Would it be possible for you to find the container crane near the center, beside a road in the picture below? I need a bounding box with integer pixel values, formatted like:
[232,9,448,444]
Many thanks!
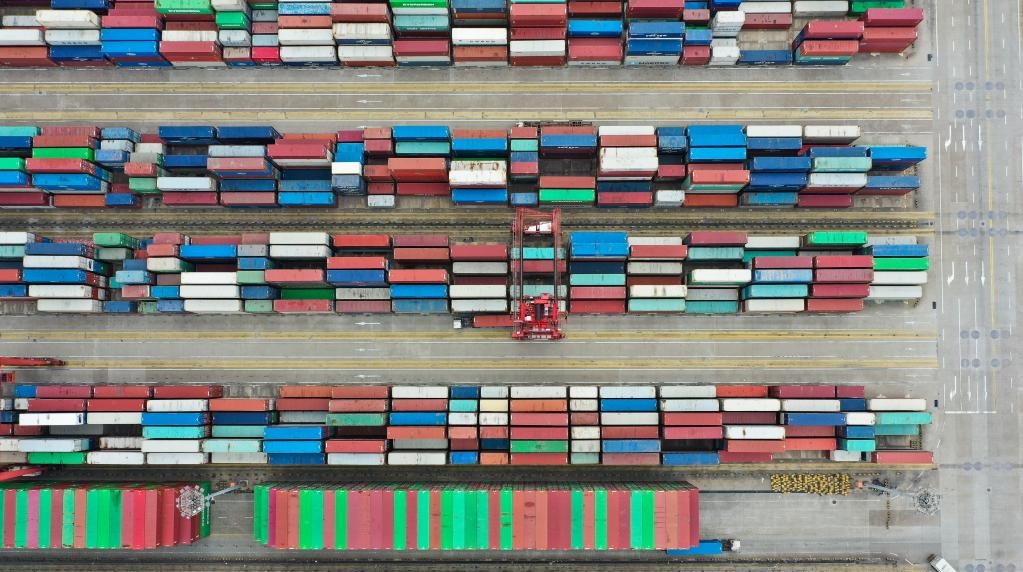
[508,208,569,342]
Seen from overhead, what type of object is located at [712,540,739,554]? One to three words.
vehicle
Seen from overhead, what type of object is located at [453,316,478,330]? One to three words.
vehicle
